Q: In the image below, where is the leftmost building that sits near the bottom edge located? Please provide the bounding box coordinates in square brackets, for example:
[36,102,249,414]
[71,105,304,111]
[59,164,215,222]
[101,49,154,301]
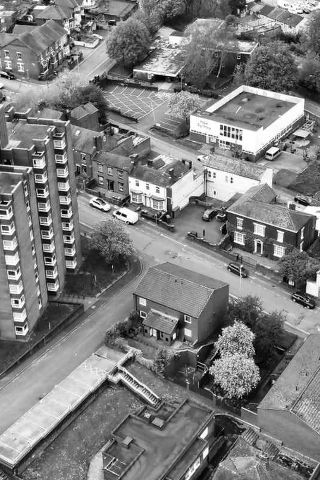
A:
[103,400,215,480]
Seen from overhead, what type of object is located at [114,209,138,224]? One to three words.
vehicle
